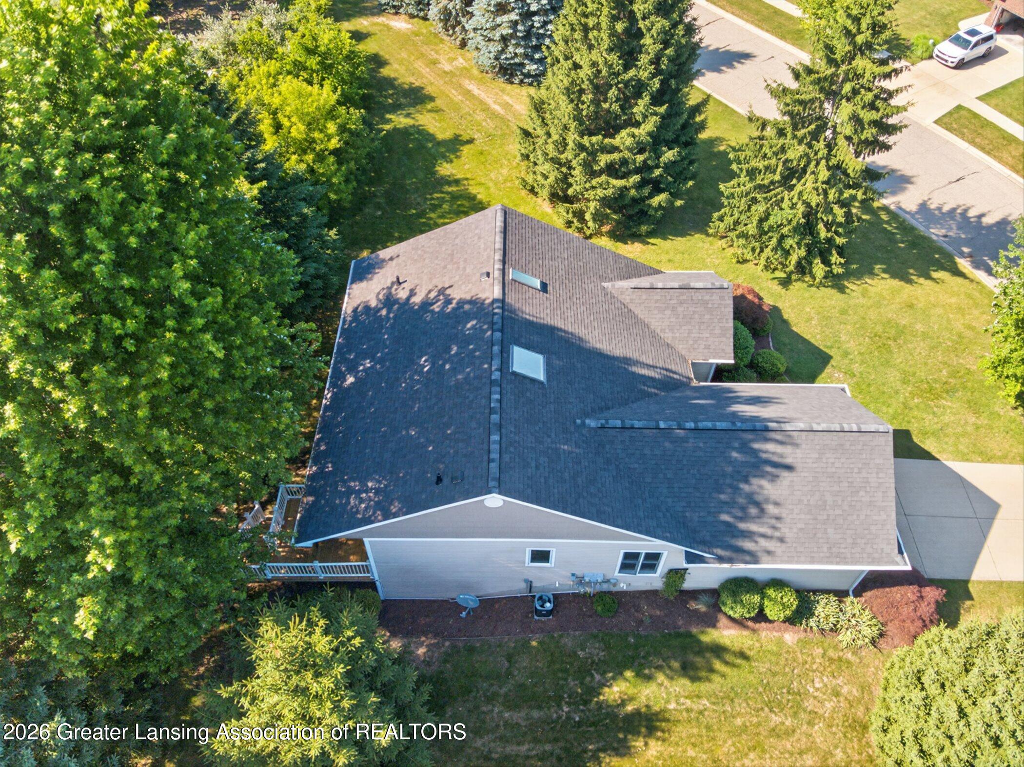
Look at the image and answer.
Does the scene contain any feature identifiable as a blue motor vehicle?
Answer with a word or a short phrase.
No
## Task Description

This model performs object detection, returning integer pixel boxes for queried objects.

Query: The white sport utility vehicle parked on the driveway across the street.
[928,17,994,64]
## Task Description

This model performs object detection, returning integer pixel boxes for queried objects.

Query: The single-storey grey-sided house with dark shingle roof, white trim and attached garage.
[291,205,913,604]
